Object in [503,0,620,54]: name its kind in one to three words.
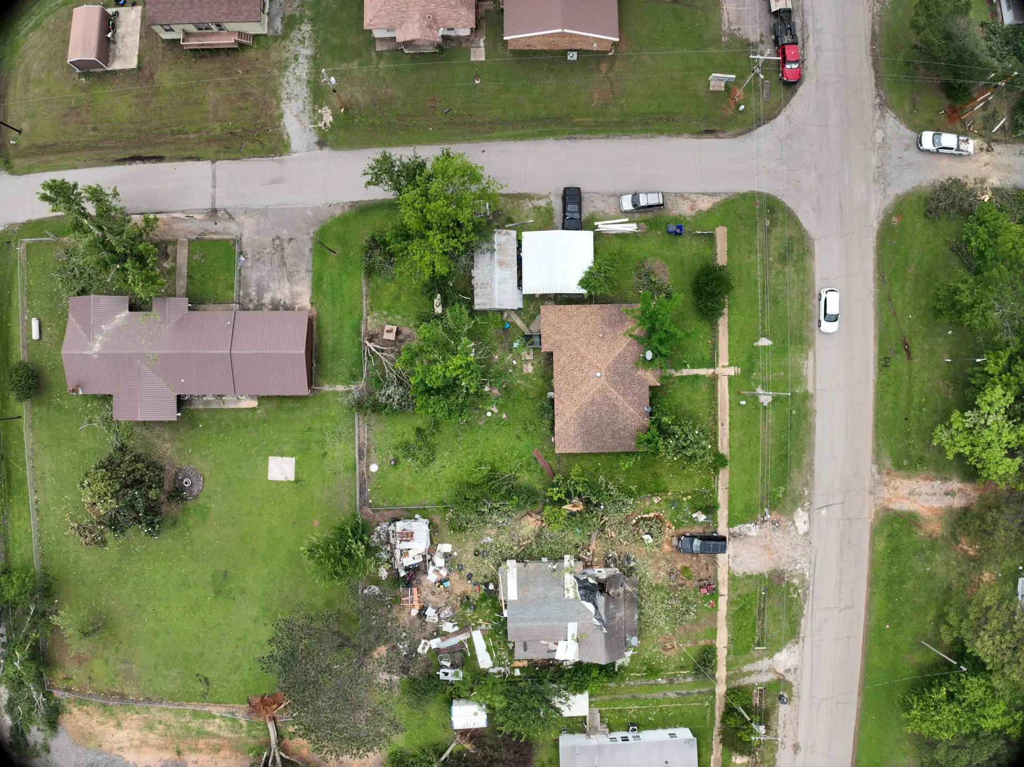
house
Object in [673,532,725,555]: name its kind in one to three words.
car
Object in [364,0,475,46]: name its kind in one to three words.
house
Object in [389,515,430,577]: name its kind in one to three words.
trailer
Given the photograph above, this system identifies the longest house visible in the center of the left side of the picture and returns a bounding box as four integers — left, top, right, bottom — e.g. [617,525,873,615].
[60,296,311,421]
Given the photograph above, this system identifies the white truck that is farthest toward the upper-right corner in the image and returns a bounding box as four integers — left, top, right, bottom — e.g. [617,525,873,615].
[914,128,976,156]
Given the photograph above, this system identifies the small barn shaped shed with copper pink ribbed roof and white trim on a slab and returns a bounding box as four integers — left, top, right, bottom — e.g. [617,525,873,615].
[65,4,110,72]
